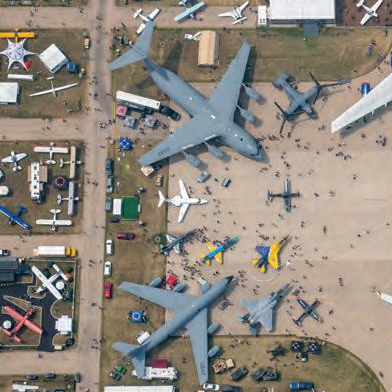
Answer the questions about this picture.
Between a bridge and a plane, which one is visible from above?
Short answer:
plane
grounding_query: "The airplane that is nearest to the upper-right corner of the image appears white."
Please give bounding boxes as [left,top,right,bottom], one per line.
[356,0,382,25]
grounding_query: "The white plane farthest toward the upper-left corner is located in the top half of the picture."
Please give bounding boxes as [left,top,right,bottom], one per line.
[28,75,78,97]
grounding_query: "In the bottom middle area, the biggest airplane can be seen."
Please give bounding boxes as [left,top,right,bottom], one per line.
[114,273,234,386]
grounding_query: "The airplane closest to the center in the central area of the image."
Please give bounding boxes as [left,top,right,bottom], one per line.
[157,178,208,221]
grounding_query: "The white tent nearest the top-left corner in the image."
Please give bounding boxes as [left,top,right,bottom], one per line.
[0,33,38,71]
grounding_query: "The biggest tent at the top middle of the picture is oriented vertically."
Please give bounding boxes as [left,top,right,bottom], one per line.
[199,30,217,68]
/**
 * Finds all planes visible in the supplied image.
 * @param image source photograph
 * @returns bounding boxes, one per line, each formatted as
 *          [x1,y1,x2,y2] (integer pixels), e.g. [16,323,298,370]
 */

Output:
[198,237,239,268]
[249,236,288,274]
[0,202,30,234]
[32,264,67,301]
[0,150,27,171]
[28,75,78,97]
[157,178,208,221]
[290,298,321,328]
[175,0,205,22]
[272,71,345,129]
[59,146,82,178]
[0,27,34,48]
[2,304,43,344]
[114,273,234,386]
[356,0,382,25]
[105,22,264,172]
[268,178,302,211]
[133,7,158,32]
[36,209,71,230]
[220,1,250,24]
[33,142,67,163]
[237,283,290,336]
[57,180,80,215]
